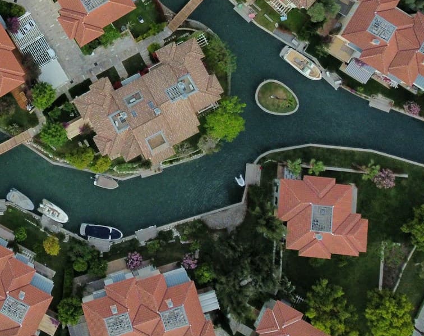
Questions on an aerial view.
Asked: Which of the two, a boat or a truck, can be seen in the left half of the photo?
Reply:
boat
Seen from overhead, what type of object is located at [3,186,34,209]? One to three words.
boat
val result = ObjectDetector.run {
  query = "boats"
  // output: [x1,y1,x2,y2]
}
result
[35,197,67,221]
[89,176,119,190]
[278,46,321,79]
[77,222,123,239]
[235,174,244,185]
[3,186,34,209]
